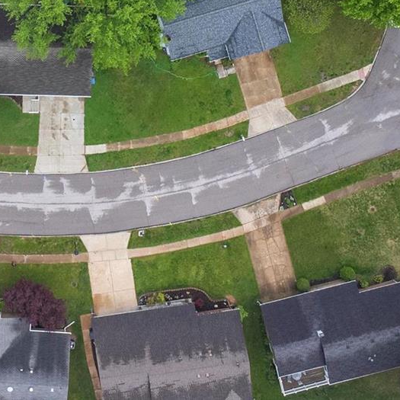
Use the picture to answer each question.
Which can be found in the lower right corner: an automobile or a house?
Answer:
house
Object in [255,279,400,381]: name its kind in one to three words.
house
